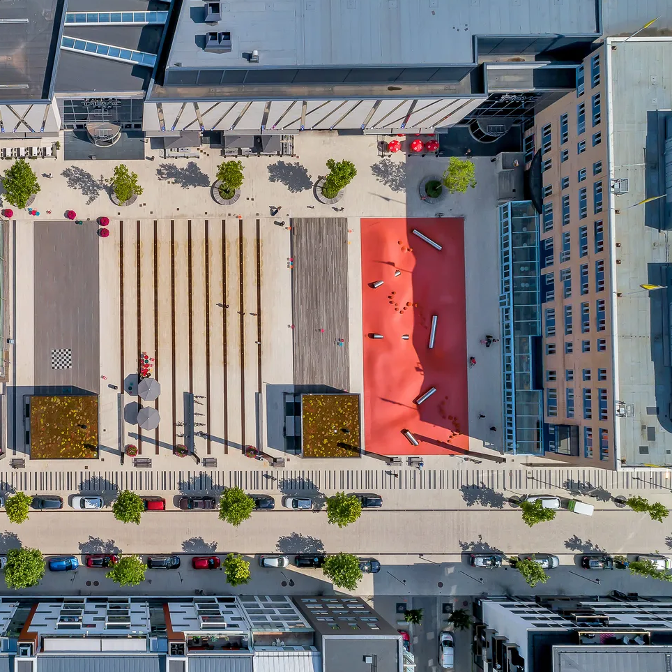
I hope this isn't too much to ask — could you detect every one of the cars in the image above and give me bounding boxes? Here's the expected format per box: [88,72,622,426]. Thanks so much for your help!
[438,630,456,668]
[284,497,314,511]
[244,497,275,511]
[525,554,557,570]
[180,496,216,512]
[147,555,180,571]
[292,554,324,570]
[136,497,165,511]
[580,555,612,571]
[0,556,7,570]
[524,496,561,510]
[191,556,220,571]
[469,554,502,570]
[347,494,382,509]
[258,554,289,570]
[636,555,671,570]
[48,556,79,572]
[85,555,118,569]
[73,496,105,511]
[397,627,411,656]
[351,559,380,574]
[31,496,63,511]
